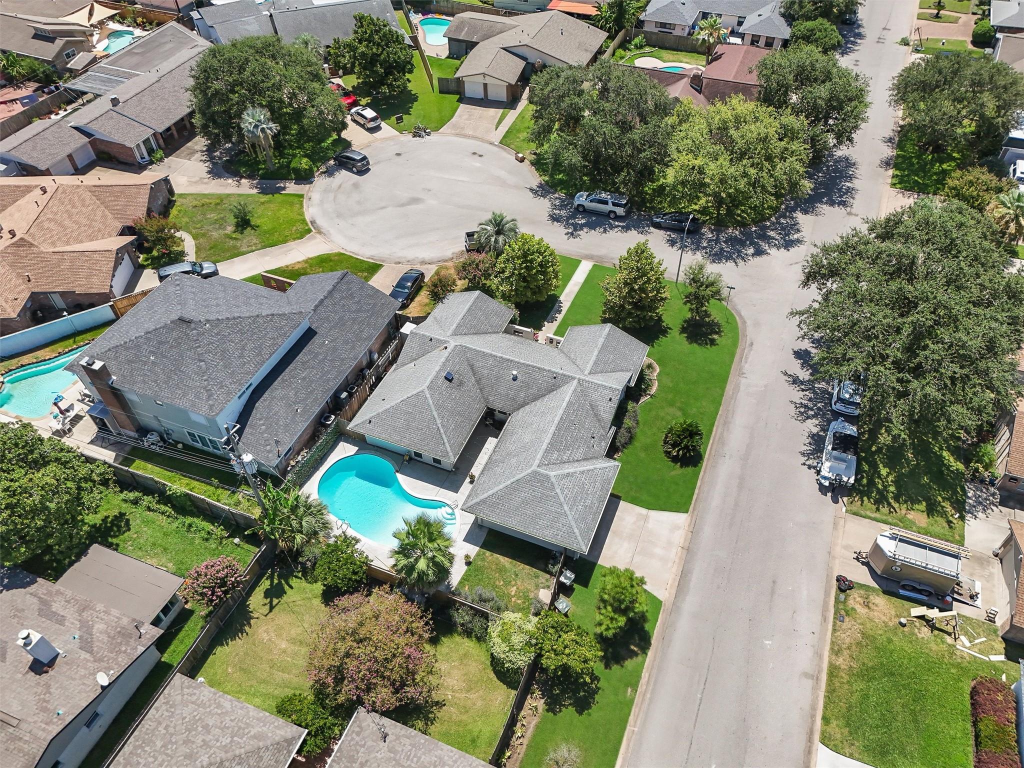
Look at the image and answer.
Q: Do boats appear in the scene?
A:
Yes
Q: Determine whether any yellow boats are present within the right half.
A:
No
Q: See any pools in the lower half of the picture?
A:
Yes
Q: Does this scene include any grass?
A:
Yes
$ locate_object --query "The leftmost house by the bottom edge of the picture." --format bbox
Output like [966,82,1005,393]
[0,543,187,768]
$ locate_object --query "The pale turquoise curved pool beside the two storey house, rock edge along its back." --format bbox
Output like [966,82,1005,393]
[0,343,94,420]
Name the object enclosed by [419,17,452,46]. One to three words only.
swimming pool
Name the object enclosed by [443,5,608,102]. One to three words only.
house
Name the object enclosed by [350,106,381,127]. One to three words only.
car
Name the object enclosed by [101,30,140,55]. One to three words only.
swimming pool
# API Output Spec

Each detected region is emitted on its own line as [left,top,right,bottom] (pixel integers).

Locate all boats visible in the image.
[817,418,862,490]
